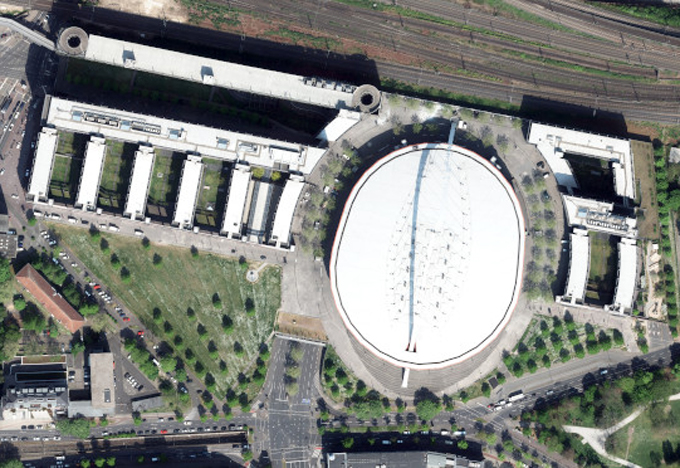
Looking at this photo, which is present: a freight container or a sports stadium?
sports stadium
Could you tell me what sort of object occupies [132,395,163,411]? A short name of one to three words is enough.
building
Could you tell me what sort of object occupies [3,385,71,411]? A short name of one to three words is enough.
building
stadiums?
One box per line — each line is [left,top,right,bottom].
[331,117,526,390]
